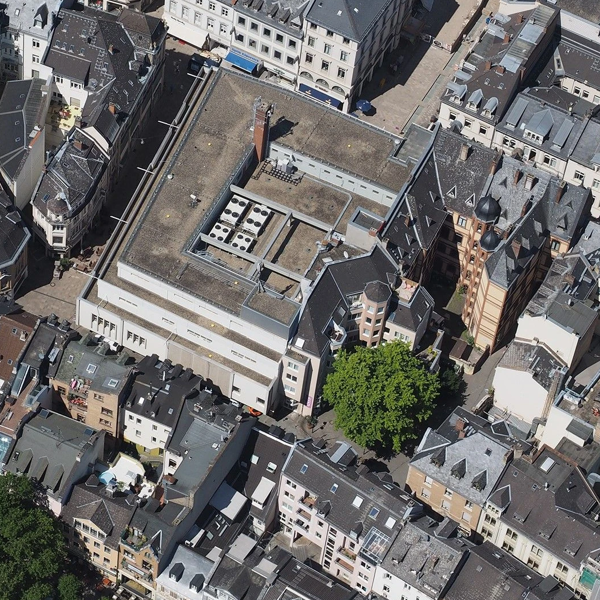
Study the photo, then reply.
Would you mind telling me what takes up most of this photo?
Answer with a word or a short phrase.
buildings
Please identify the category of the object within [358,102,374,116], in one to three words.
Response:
umbrella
